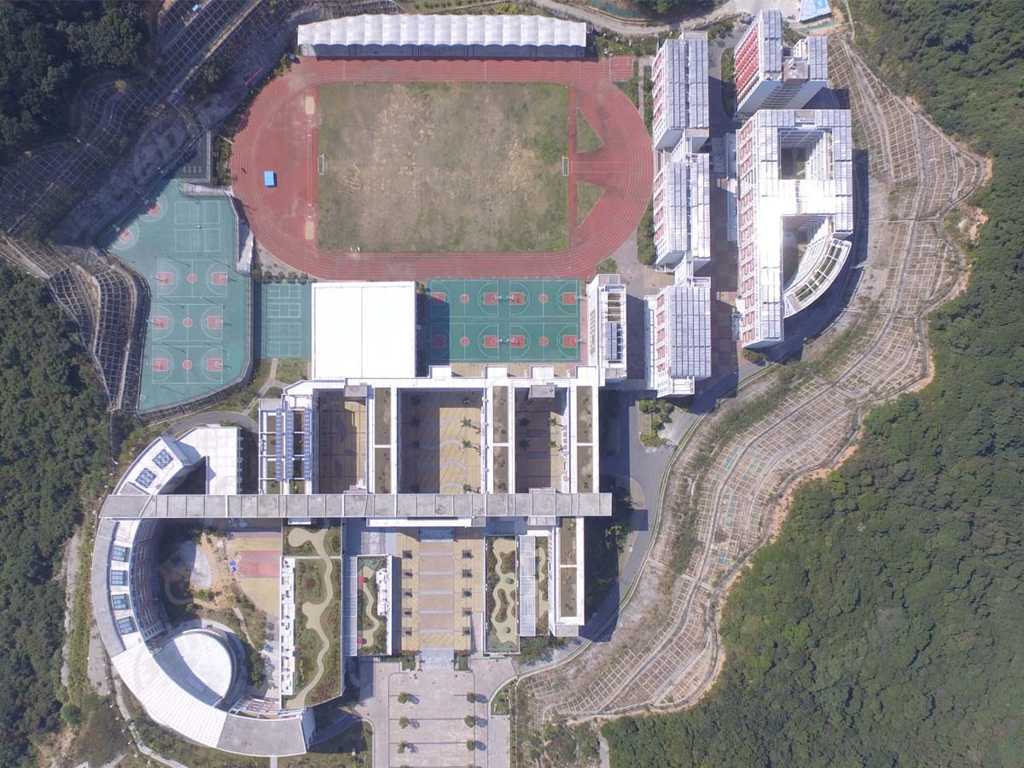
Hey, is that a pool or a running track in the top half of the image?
running track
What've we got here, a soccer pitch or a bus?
soccer pitch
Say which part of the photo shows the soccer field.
top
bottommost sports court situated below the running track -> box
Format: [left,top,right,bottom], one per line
[235,532,282,618]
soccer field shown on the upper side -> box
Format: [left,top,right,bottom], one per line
[317,82,569,253]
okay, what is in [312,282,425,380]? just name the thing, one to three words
building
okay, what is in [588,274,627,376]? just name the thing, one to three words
building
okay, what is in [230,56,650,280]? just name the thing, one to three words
running track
